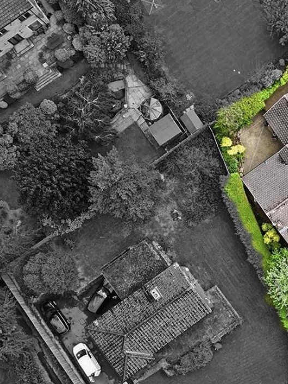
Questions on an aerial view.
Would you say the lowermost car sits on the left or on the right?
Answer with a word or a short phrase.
left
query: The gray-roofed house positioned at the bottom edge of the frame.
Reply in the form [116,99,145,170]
[85,240,211,382]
